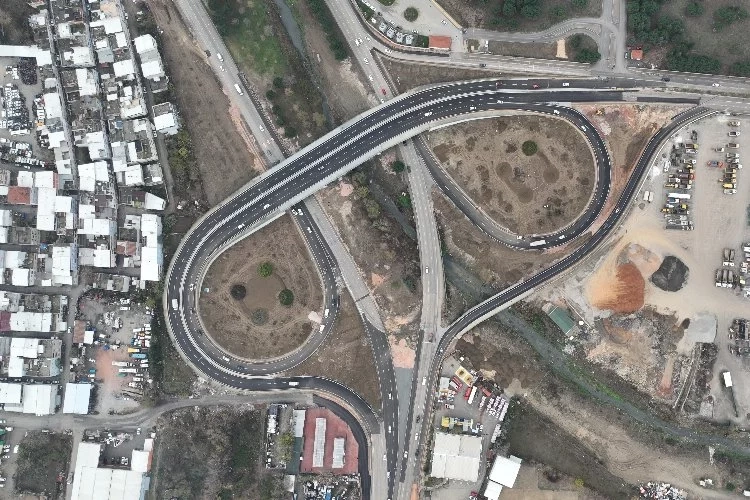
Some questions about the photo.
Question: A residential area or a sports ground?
residential area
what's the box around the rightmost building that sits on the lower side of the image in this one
[547,306,576,334]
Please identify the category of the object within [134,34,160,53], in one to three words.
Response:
house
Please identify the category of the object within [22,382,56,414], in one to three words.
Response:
building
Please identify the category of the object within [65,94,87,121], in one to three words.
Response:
house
